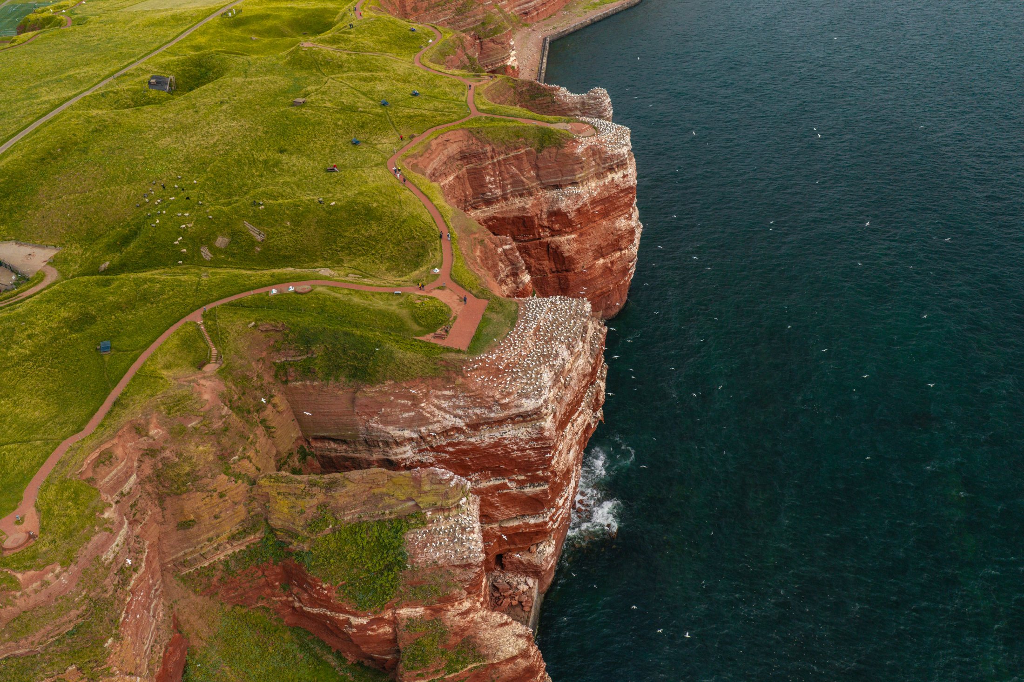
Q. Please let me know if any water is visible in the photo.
Yes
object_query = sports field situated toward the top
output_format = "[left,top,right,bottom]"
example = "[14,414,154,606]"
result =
[0,1,62,37]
